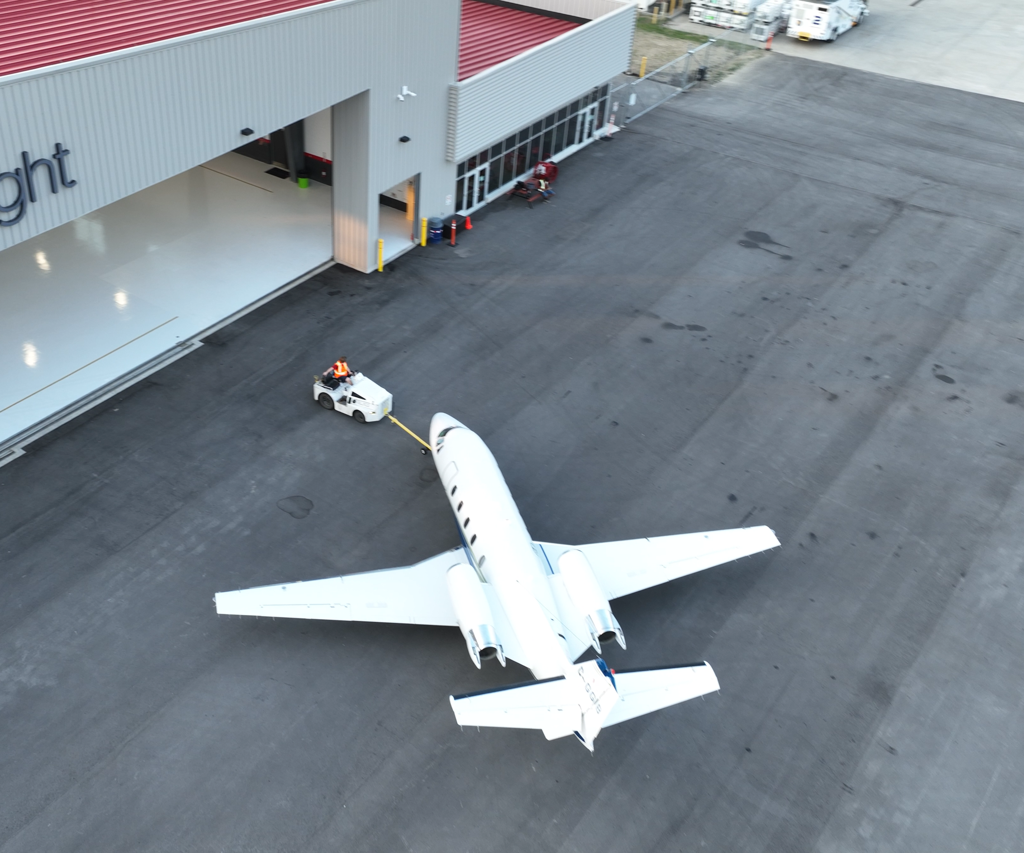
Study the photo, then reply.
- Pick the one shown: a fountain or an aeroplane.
aeroplane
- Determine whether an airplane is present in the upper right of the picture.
No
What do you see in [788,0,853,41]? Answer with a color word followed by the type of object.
white truck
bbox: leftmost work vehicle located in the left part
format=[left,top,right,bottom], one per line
[314,369,397,424]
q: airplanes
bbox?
[213,412,779,757]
